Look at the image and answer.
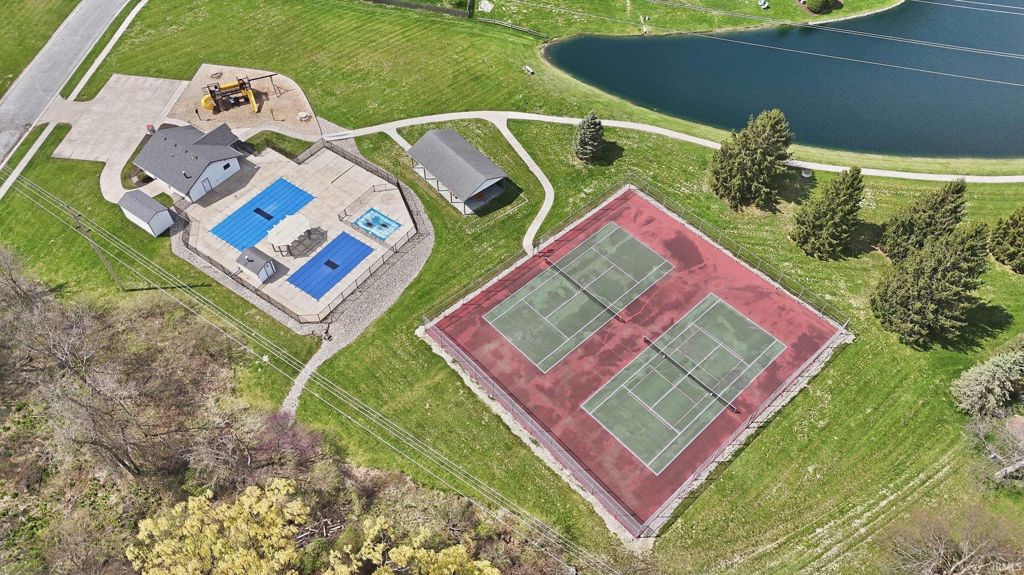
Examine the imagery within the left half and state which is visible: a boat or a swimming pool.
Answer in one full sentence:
Looking within the left half, you will find a swimming pool.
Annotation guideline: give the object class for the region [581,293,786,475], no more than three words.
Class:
tennis court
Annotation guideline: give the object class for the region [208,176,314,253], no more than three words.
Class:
swimming pool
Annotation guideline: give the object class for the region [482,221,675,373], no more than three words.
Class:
tennis court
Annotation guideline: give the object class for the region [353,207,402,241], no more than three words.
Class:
swimming pool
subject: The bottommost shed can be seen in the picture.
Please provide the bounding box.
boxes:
[233,245,276,283]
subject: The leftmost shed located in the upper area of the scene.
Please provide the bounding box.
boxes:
[116,190,174,237]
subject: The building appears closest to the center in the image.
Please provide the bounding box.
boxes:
[403,129,509,216]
